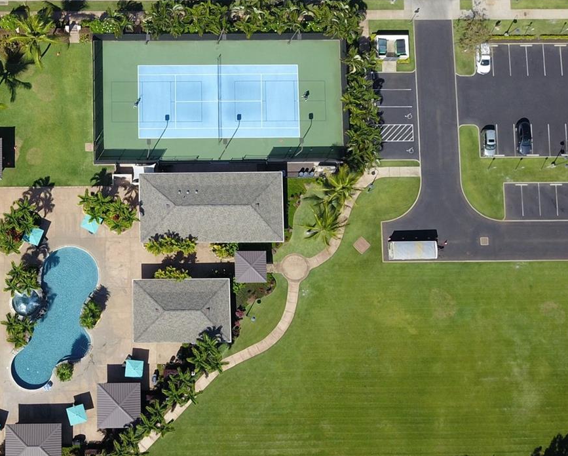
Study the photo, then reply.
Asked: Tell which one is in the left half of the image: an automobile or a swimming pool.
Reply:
swimming pool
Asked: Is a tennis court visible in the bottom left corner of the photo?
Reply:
No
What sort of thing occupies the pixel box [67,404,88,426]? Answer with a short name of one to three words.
umbrella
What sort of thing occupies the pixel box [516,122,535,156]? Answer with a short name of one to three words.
car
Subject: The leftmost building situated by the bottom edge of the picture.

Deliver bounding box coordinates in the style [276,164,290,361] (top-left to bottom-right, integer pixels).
[5,423,62,456]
